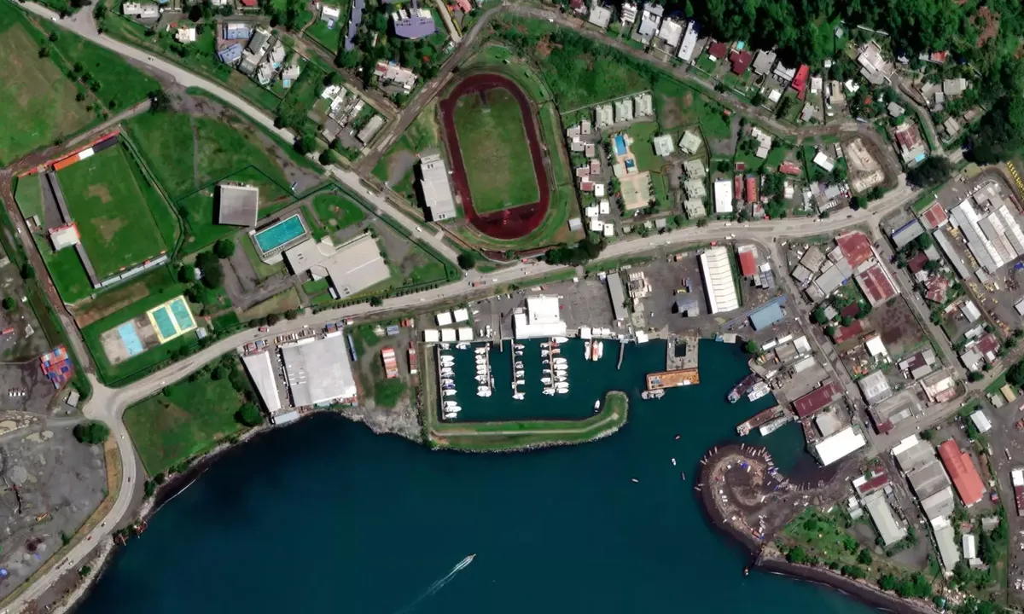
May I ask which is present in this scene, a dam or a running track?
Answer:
running track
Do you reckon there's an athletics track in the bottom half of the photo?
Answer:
No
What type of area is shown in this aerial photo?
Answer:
port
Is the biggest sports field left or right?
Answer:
left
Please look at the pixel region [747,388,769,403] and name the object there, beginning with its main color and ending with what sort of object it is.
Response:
white ship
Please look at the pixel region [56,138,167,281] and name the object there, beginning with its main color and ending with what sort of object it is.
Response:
green sports field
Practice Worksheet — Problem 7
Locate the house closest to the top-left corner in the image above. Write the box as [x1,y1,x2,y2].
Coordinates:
[123,4,158,17]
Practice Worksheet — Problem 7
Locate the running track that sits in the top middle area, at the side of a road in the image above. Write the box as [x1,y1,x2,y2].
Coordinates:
[444,72,550,239]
